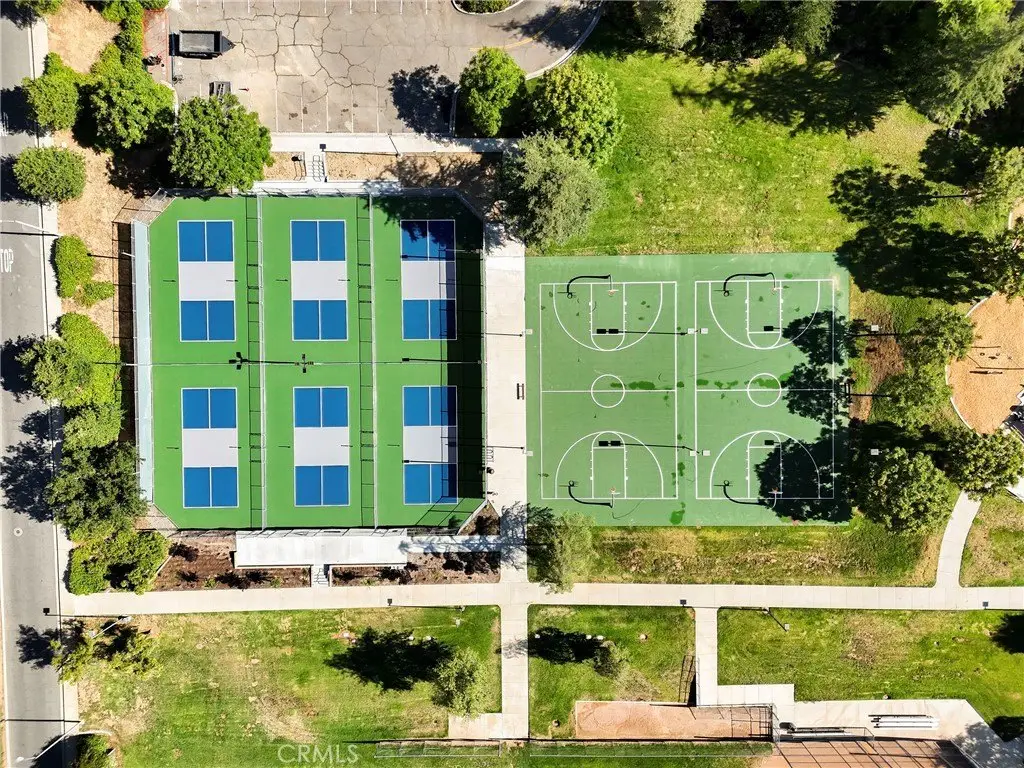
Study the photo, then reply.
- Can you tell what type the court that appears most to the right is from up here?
basketball court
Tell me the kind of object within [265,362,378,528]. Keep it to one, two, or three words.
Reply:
sports court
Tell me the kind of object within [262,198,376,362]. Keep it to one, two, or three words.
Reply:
sports court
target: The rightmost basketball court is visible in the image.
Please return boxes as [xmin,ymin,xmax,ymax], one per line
[686,253,851,525]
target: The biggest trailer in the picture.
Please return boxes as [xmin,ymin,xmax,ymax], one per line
[175,30,235,60]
